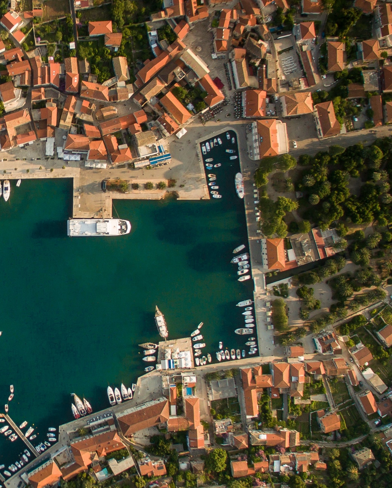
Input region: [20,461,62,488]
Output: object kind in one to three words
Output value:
house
